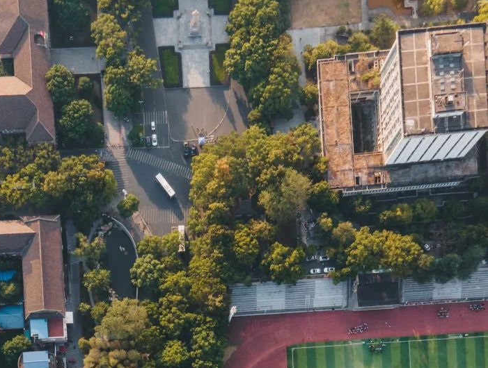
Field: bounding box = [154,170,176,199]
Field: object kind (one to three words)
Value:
bus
